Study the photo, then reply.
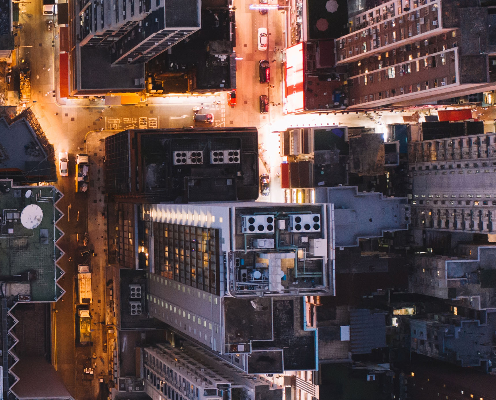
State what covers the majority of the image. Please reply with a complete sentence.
The bulk of the photo consists of buildings.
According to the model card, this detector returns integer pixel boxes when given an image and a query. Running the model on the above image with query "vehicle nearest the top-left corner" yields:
[42,0,56,15]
